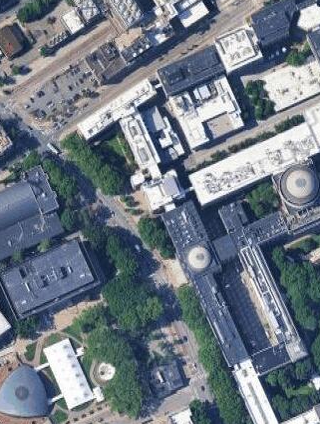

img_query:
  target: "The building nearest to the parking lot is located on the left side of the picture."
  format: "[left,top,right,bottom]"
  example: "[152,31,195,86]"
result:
[86,41,126,86]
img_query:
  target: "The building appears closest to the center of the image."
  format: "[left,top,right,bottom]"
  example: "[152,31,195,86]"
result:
[131,169,185,212]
